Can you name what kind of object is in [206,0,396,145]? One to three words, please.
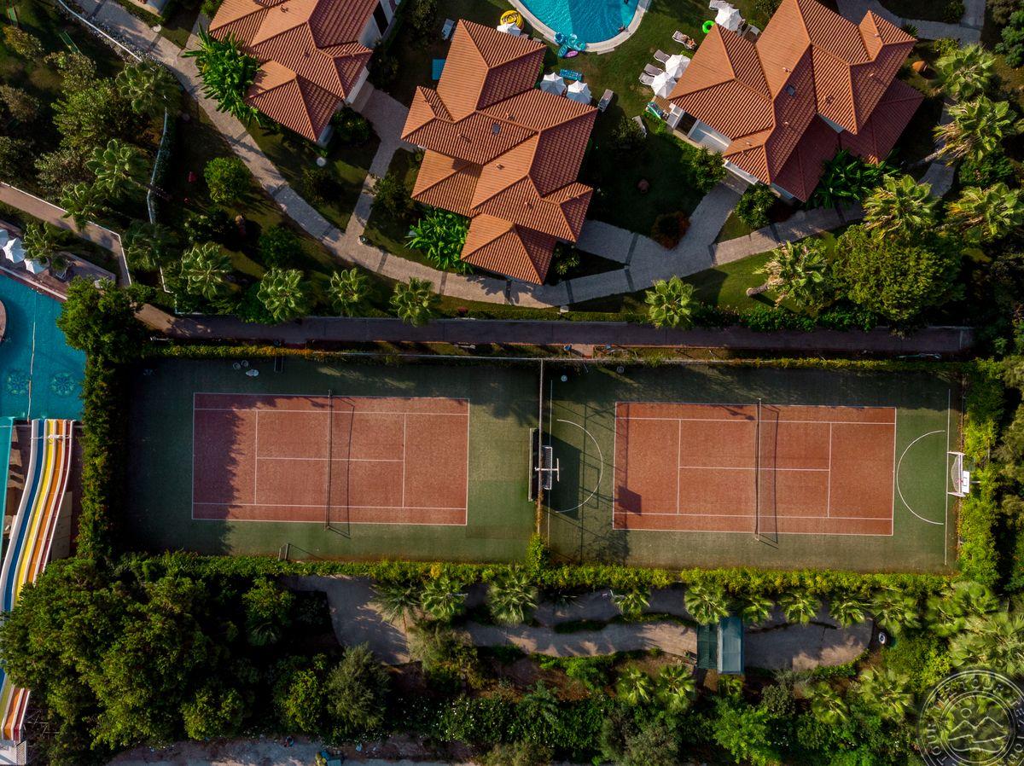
house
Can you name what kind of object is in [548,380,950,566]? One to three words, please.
tennis court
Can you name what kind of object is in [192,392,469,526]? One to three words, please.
tennis court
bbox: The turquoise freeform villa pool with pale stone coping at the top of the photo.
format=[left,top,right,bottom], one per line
[512,0,650,55]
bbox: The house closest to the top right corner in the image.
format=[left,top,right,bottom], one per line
[668,0,926,219]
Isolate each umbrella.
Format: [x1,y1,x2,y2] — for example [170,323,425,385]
[5,237,28,265]
[0,224,16,251]
[661,53,689,83]
[25,256,56,277]
[563,78,593,105]
[712,5,742,32]
[647,71,677,102]
[540,70,568,97]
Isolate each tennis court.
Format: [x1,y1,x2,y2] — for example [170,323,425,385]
[548,380,950,566]
[192,392,469,526]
